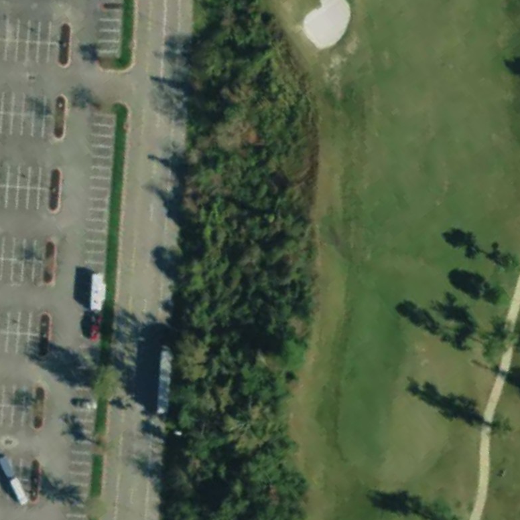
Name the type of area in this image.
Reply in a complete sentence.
The area seen from above is a golf course.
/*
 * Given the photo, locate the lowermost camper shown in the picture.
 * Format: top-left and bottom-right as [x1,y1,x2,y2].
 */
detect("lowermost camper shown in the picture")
[9,478,28,505]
